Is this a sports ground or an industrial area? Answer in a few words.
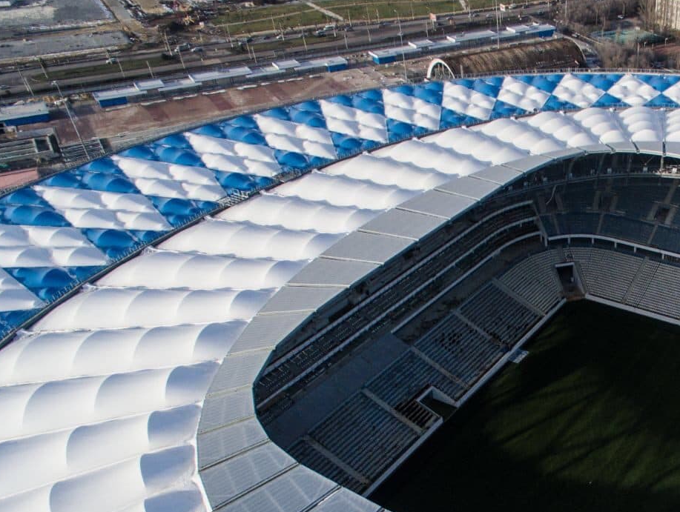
sports ground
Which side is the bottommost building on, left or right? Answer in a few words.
left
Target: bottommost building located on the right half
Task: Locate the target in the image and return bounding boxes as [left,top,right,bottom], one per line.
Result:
[372,25,556,64]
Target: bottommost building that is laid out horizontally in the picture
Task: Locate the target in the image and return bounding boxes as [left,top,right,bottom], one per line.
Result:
[0,100,52,125]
